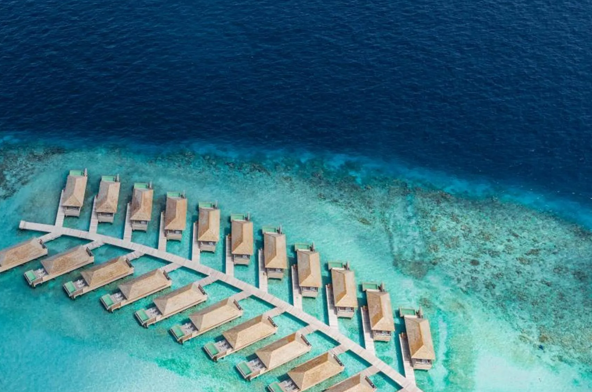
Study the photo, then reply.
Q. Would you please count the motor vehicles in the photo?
zero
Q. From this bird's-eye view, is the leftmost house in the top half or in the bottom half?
bottom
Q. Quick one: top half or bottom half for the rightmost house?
bottom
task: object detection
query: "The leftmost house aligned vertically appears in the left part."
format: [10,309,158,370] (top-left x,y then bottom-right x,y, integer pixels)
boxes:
[62,174,87,223]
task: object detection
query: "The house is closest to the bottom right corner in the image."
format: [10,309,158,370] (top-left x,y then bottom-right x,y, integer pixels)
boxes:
[398,309,435,372]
